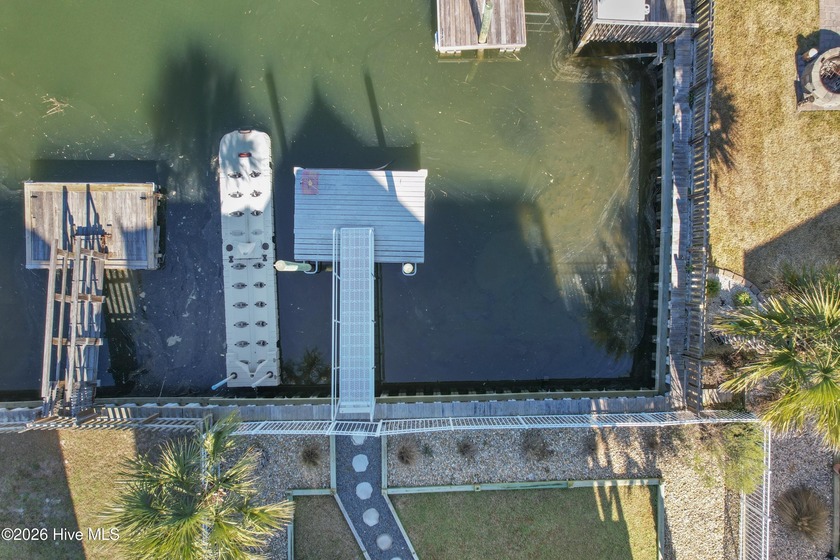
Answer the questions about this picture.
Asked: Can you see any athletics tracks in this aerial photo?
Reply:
No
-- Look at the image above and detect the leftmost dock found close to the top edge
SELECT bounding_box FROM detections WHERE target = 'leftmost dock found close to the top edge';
[436,0,526,58]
